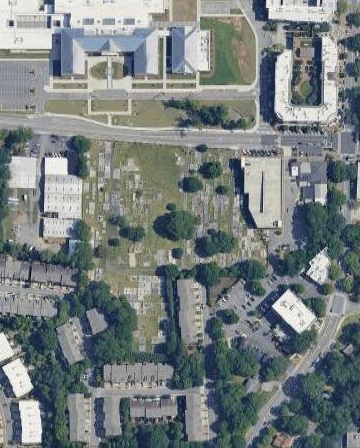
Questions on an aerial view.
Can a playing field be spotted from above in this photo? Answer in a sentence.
Yes, a playing field is visible in the scene.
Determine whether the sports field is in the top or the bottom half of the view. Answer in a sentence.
It is in the top half that the sports field appears.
